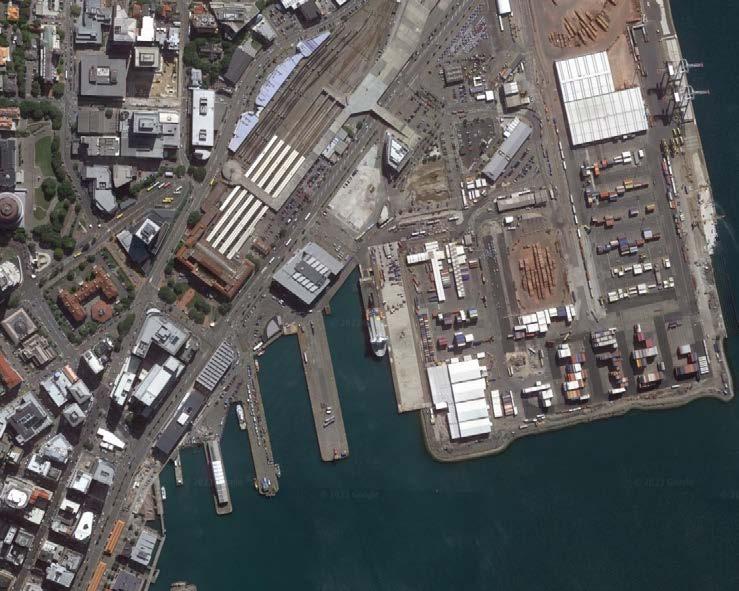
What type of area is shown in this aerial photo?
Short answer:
port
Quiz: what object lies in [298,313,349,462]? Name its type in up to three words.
pier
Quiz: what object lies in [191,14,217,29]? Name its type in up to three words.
building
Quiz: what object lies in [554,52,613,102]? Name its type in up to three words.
building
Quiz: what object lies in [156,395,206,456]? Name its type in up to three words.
shed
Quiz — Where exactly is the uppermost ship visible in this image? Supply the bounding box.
[359,278,386,357]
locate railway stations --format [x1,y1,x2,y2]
[174,203,254,300]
